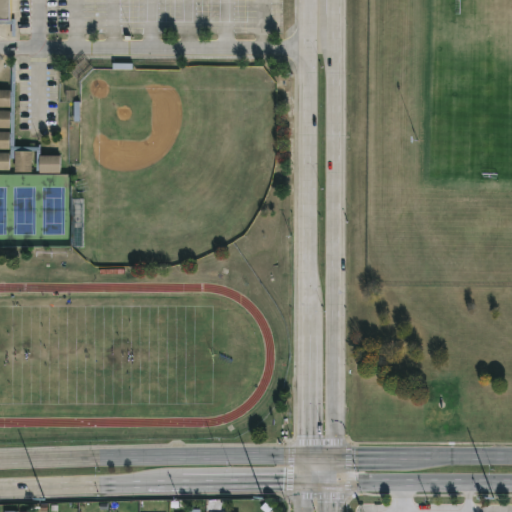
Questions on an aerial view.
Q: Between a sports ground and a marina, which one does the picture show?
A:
sports ground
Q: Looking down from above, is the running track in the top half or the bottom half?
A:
bottom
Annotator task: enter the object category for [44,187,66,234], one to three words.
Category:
tennis court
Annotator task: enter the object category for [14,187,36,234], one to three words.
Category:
tennis court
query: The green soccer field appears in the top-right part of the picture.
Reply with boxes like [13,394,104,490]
[432,0,512,184]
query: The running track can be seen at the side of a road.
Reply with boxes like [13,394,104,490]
[0,282,276,428]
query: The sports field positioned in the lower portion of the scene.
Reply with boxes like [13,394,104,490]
[0,306,214,404]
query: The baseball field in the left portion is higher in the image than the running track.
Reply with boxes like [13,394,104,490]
[82,66,276,267]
